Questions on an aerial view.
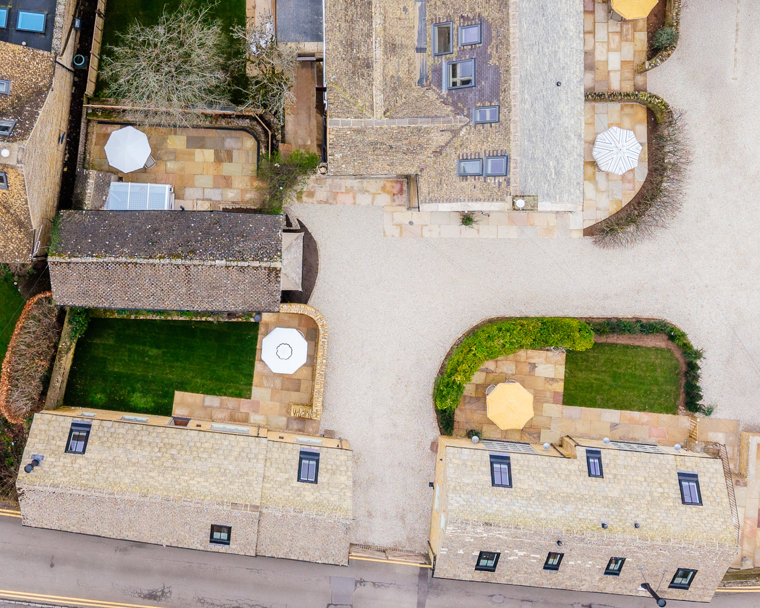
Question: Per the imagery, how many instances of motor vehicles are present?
none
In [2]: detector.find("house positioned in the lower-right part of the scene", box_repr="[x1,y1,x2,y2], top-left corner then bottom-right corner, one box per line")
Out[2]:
[428,434,738,608]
